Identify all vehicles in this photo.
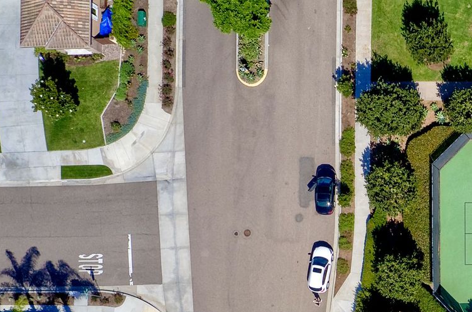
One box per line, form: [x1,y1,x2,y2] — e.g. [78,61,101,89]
[307,241,334,291]
[305,164,336,214]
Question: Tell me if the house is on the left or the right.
left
